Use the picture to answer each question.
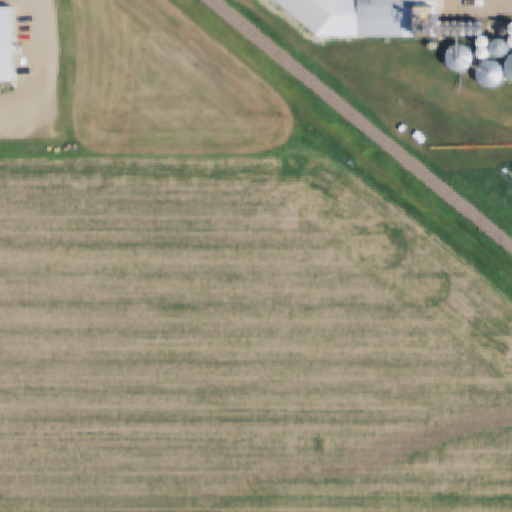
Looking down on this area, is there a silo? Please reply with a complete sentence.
Yes, a silo appears in the view.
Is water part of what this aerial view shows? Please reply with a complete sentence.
No, water can't be seen anywhere here.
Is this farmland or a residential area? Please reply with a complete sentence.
The picture captures farmland.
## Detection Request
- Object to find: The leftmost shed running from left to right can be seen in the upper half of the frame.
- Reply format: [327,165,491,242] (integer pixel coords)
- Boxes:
[273,0,357,37]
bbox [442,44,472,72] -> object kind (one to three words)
silo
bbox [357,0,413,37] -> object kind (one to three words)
building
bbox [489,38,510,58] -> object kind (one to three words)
silo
